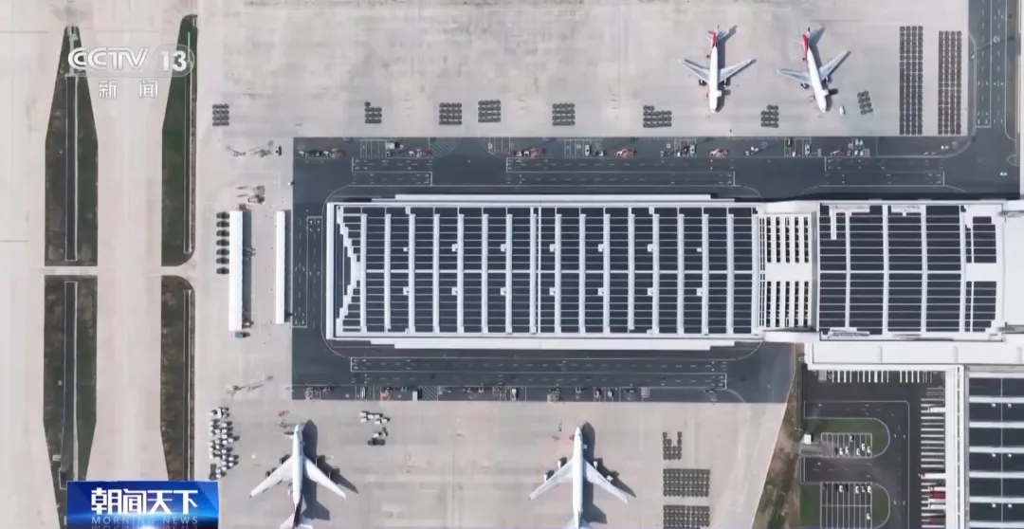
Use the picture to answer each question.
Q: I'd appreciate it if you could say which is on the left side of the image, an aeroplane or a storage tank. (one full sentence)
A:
Looking on the left side of the image, you will find an aeroplane.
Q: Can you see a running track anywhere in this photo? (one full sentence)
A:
No, I can see no running track in this picture.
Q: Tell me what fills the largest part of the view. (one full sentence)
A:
Most of the picture is covered by paved ground.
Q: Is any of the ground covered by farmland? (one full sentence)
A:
No, the picture contains no farmland.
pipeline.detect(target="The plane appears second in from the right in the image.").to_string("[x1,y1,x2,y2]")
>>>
[679,27,750,112]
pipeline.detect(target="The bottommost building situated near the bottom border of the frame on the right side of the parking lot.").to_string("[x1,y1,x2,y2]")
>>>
[937,366,1024,529]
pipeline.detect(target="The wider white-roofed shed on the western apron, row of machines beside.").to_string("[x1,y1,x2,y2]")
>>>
[229,210,246,330]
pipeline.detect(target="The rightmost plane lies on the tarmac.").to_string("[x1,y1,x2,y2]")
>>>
[778,29,848,112]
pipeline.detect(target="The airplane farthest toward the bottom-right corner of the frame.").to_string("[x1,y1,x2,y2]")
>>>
[530,425,627,529]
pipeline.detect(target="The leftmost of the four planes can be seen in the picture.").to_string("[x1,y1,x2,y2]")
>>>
[248,423,345,529]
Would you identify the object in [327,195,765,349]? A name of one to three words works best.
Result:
building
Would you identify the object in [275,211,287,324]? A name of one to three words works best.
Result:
shed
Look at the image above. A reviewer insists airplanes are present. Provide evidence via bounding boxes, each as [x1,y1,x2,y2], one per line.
[778,29,848,112]
[248,423,345,529]
[530,425,627,529]
[679,27,750,112]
